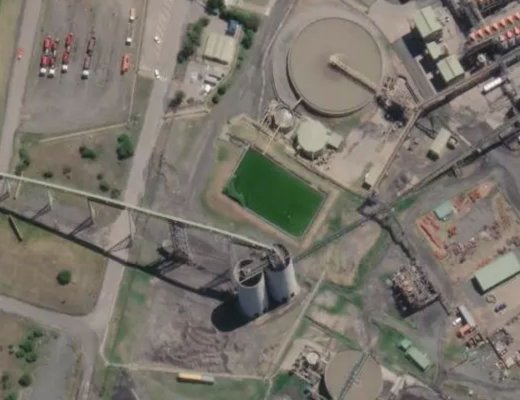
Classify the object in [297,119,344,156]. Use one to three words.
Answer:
water tank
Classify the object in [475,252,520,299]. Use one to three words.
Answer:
building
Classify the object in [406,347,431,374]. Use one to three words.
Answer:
shed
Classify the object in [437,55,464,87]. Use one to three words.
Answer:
building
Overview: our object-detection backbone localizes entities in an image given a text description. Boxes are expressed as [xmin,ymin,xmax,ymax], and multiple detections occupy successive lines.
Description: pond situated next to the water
[222,145,329,239]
